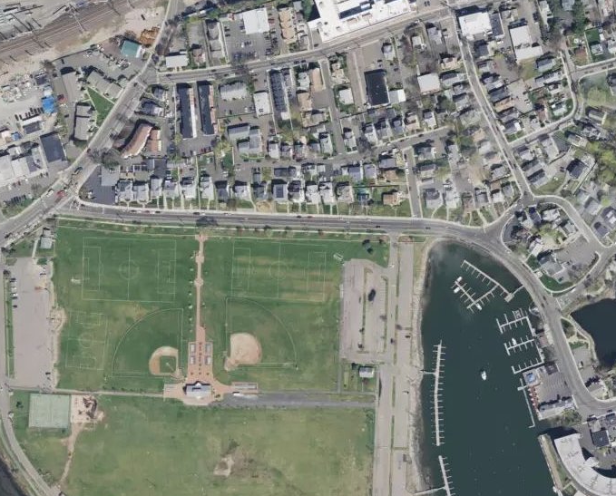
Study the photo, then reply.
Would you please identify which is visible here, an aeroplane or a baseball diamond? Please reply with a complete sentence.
I can see a baseball diamond in this picture.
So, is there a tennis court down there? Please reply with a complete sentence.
Yes, there is a tennis court in the image.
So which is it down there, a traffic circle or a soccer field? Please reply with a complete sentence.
Of the two, only a soccer field appears.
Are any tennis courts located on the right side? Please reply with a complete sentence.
No, no tennis court appears on the right side.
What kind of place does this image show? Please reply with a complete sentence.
It's a residential area.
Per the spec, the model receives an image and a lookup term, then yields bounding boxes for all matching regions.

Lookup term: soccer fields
[232,240,327,303]
[65,311,105,371]
[81,236,176,305]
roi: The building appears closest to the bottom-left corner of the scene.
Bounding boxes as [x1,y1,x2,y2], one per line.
[186,383,211,397]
